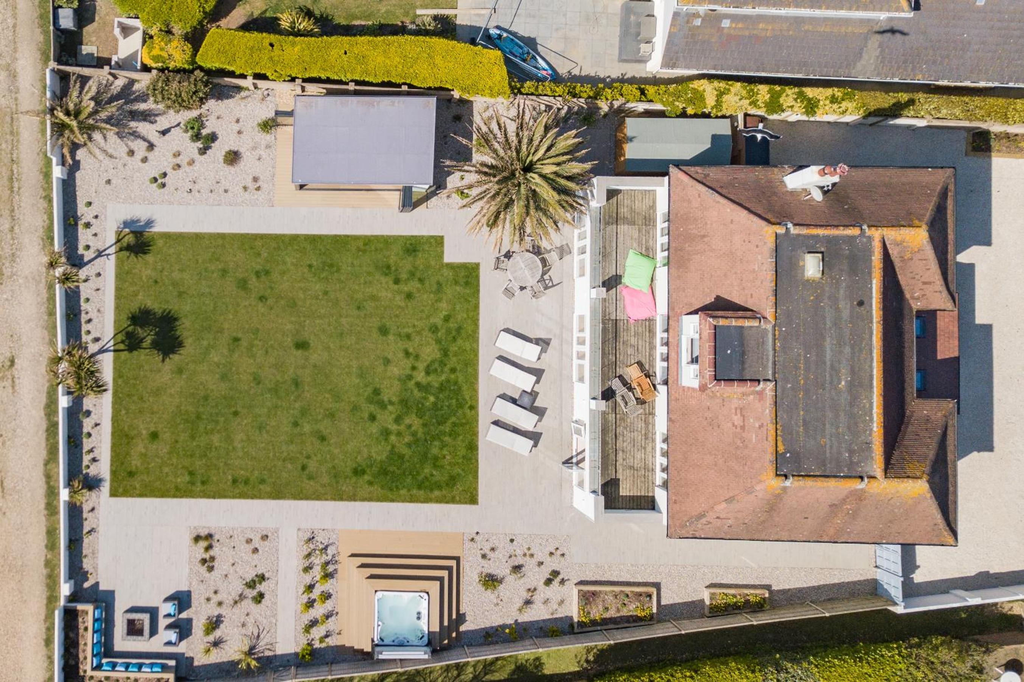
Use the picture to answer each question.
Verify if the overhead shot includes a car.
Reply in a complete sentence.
No, I find no car anywhere in the image.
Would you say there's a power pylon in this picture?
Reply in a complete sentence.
No, no power pylon is visible in the view.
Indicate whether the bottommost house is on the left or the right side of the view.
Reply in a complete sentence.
The bottommost house is on the right side of the image.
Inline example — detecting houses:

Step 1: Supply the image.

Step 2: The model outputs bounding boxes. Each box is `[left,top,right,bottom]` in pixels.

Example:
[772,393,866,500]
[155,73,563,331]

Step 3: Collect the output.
[645,0,1024,95]
[555,163,959,548]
